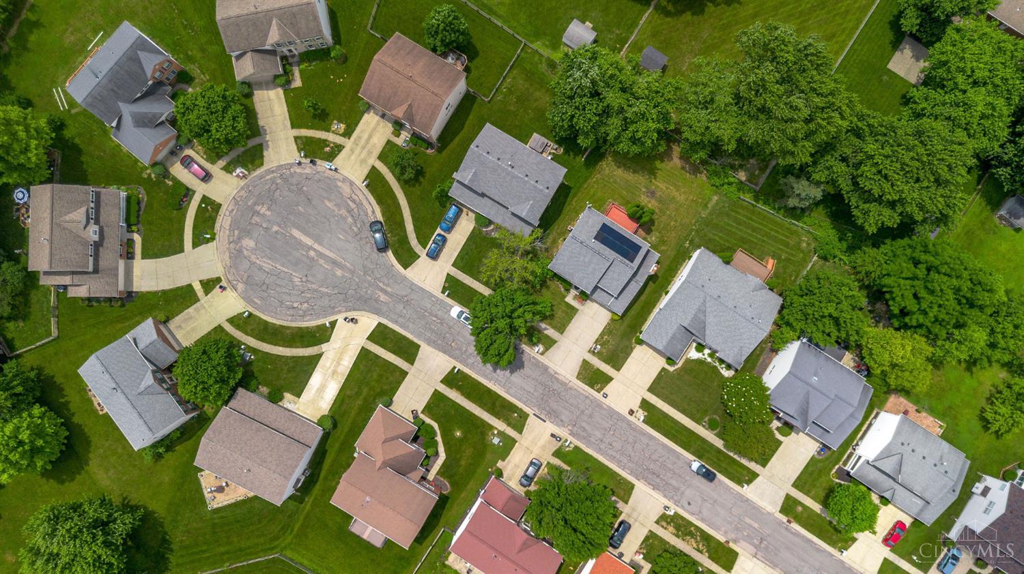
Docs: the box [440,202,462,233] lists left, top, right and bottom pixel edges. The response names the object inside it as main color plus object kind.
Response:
blue vehicle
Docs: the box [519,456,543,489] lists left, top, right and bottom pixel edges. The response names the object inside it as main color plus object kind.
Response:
gray car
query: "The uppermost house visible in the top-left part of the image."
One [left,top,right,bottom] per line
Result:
[217,0,331,83]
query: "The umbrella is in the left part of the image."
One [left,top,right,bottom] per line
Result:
[15,189,30,203]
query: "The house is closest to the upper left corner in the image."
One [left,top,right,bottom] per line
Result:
[63,20,184,166]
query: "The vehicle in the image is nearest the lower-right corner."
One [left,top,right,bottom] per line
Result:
[934,545,962,574]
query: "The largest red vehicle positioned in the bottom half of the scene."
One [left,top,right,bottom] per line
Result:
[881,518,906,550]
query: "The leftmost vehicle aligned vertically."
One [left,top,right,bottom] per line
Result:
[370,219,389,253]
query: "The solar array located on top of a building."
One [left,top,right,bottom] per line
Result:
[595,222,642,263]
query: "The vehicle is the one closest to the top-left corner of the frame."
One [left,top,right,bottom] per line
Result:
[178,152,213,183]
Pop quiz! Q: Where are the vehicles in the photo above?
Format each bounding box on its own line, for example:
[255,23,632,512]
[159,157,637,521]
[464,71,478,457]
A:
[687,459,718,484]
[370,219,389,253]
[426,233,446,262]
[519,456,543,489]
[934,545,962,574]
[881,518,906,550]
[440,202,462,233]
[609,518,631,550]
[447,306,480,333]
[178,152,213,183]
